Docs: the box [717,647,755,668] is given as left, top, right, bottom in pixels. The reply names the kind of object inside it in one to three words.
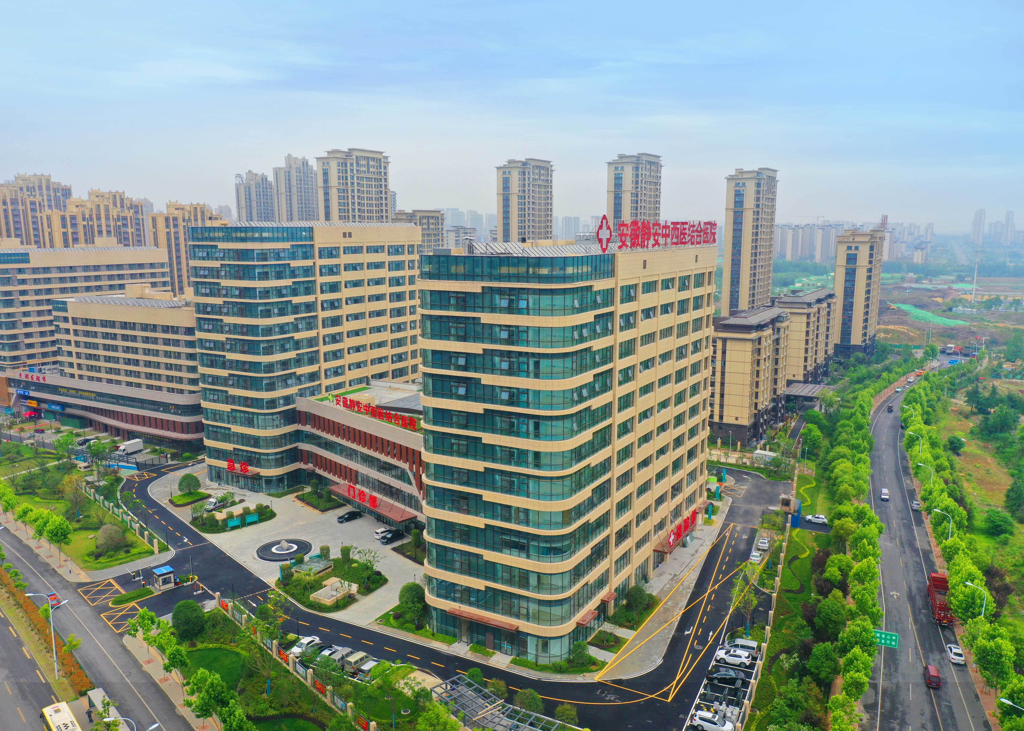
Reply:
car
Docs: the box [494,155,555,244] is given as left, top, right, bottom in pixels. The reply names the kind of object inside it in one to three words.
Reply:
building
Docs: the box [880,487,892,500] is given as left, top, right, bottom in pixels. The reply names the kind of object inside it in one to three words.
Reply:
vehicle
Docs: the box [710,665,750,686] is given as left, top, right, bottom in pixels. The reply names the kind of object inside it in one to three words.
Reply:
car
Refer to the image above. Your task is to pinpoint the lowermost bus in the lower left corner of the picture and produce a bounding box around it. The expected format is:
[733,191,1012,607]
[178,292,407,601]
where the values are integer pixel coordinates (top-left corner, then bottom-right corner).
[39,705,83,731]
